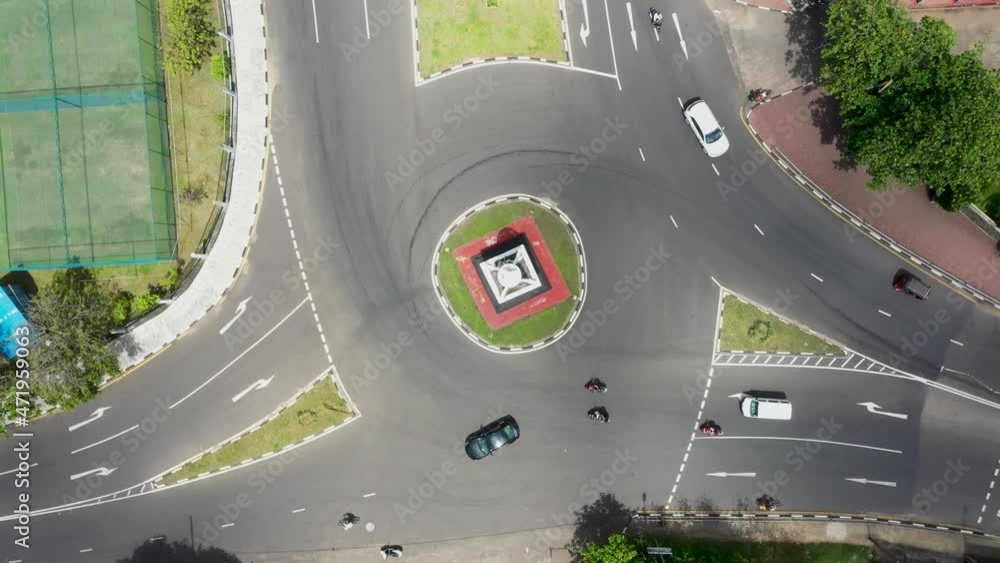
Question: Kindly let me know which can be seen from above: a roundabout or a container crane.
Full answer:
There is a roundabout in the scene.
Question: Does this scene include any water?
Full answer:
No, water can't be seen anywhere here.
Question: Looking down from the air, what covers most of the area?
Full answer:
The scene is dominated by paved ground.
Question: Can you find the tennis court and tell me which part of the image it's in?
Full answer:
Look in the top left portion of the view to spot the tennis court.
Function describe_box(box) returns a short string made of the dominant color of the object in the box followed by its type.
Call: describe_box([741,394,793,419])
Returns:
white vehicle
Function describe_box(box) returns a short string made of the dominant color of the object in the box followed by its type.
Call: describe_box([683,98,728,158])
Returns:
white car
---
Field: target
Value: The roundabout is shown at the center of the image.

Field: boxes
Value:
[432,193,588,354]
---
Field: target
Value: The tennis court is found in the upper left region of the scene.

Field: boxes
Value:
[0,0,177,261]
